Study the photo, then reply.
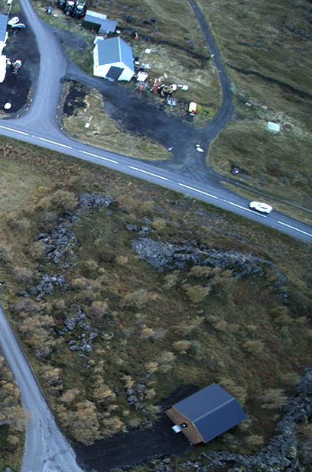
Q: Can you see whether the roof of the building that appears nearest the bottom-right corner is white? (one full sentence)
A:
No, the roof of the building that appears nearest the bottom-right corner is blue.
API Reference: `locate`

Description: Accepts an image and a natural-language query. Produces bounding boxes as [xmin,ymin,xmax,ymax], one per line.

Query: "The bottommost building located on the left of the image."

[94,36,135,84]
